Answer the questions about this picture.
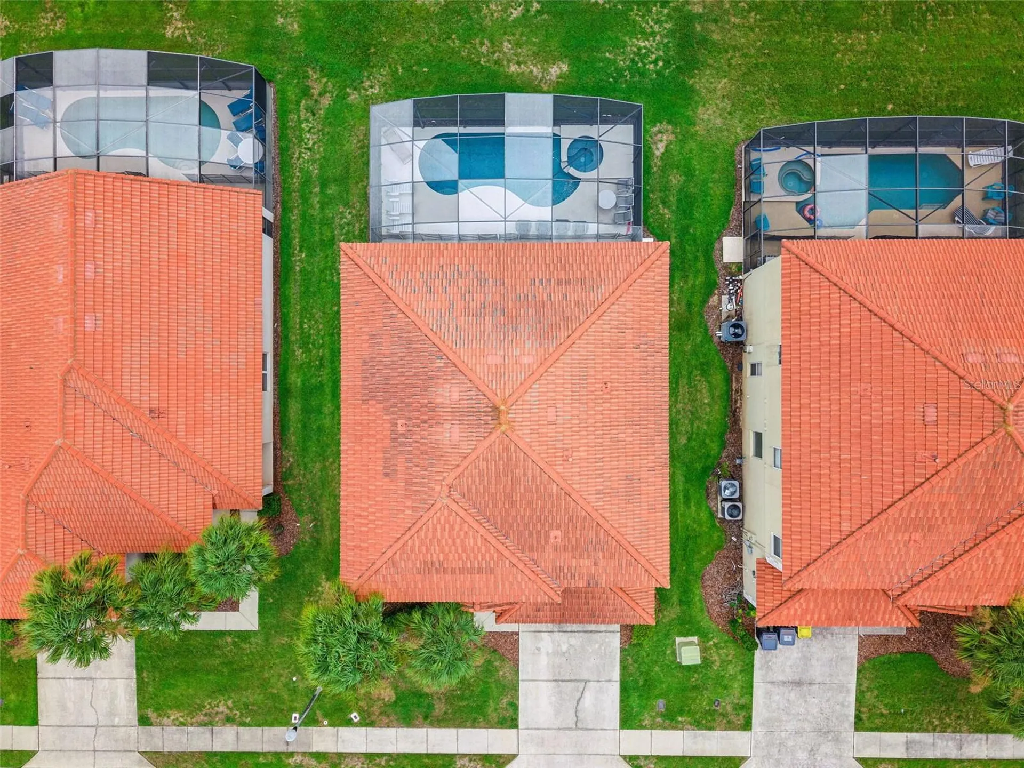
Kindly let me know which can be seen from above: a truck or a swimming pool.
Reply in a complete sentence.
There is a swimming pool in the scene.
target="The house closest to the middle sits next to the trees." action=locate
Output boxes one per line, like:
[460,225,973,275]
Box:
[337,239,673,628]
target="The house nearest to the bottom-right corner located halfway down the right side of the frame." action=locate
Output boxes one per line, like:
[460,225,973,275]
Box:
[741,236,1024,629]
